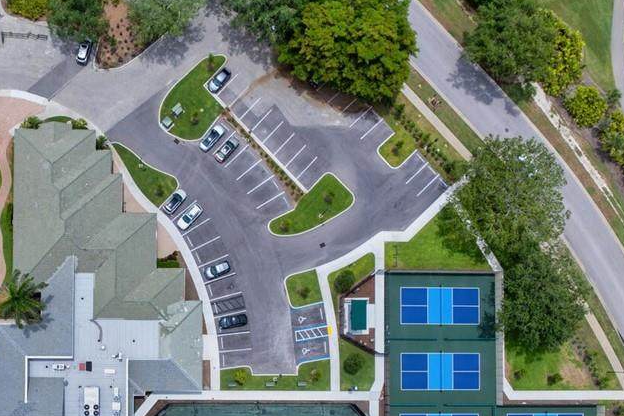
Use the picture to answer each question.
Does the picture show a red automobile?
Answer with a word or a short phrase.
No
